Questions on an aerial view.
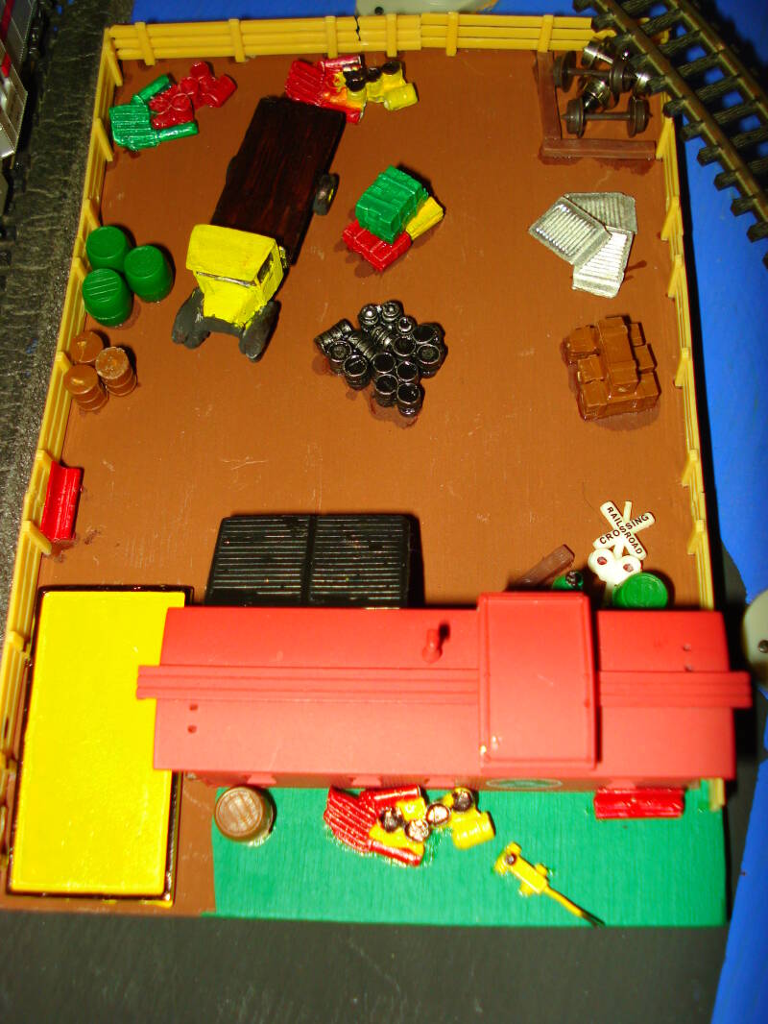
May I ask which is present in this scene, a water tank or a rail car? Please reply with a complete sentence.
There is a rail car in the scene.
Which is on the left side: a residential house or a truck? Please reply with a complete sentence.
It is a truck that can be seen on the left side.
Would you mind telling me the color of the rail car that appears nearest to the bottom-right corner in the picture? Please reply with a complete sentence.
In this view, the rail car that appears nearest to the bottom-right corner is red.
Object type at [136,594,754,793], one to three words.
rail car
